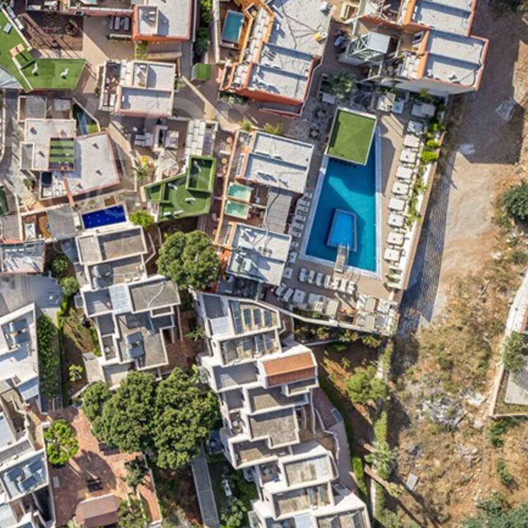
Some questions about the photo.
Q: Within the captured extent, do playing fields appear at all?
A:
No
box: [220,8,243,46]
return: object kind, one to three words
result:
swimming pool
